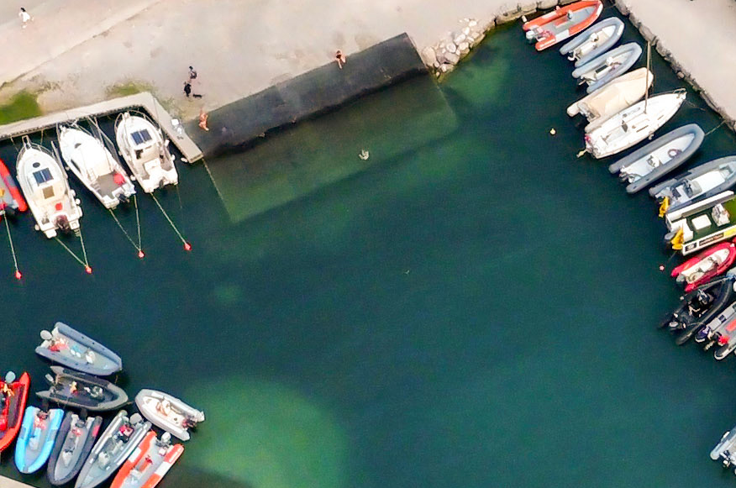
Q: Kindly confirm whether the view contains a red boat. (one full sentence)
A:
Yes, the picture does show a red boat.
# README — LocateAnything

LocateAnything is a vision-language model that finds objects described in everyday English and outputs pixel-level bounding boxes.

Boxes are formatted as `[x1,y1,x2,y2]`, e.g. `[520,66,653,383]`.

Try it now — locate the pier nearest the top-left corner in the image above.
[0,94,206,170]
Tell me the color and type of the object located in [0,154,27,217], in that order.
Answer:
red boat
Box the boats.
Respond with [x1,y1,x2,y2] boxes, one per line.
[18,136,84,238]
[118,108,179,196]
[74,411,151,488]
[581,50,687,160]
[47,413,102,484]
[0,154,27,217]
[522,0,605,50]
[711,421,736,473]
[651,154,736,213]
[610,125,707,194]
[40,365,128,408]
[111,433,181,488]
[657,193,736,256]
[0,372,28,451]
[572,42,643,92]
[568,70,654,133]
[59,121,141,212]
[559,18,625,66]
[19,404,64,474]
[671,242,736,292]
[695,302,736,360]
[38,322,122,374]
[134,390,205,438]
[658,273,736,344]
